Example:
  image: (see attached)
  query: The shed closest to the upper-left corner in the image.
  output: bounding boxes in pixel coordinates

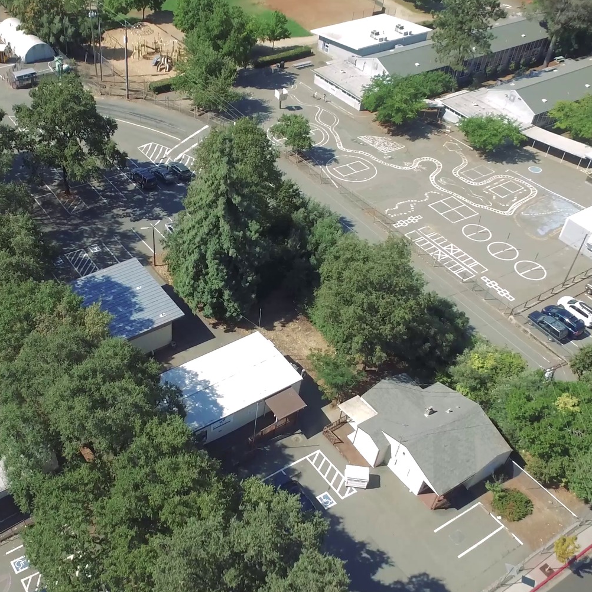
[0,16,51,63]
